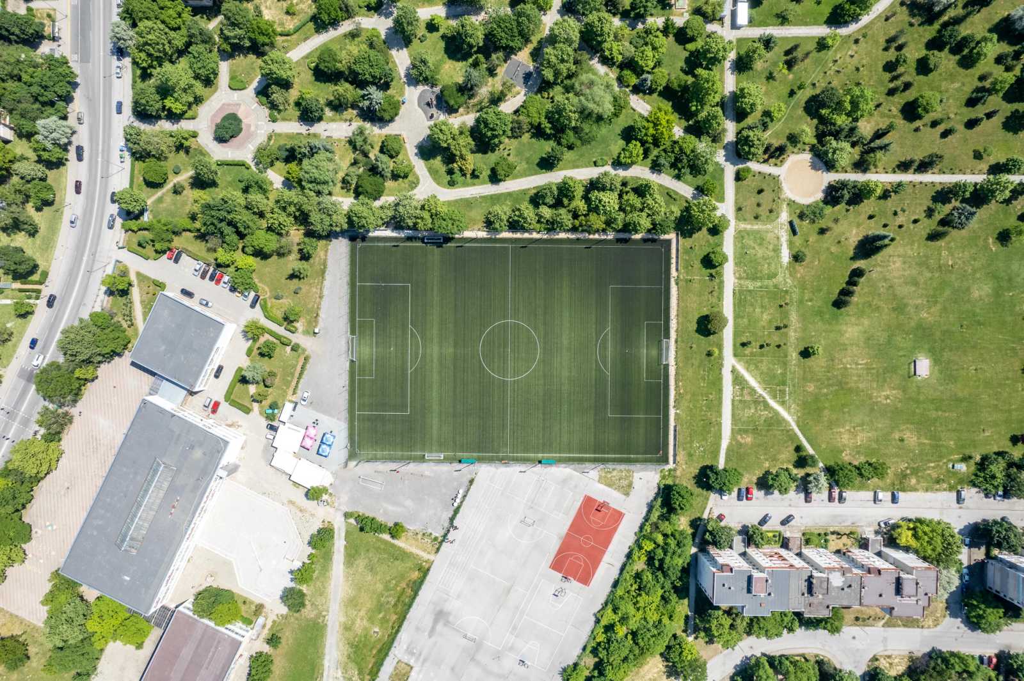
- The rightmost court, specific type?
basketball court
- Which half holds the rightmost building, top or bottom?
bottom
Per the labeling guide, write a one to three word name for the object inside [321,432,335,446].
umbrella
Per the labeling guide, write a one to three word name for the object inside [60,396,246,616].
building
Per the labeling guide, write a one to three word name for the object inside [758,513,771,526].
vehicle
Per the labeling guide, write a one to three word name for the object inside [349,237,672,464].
soccer field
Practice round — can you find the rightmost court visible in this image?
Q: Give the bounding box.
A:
[549,495,625,587]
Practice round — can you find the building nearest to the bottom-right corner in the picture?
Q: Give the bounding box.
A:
[987,556,1024,608]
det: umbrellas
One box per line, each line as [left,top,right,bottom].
[317,443,331,457]
[301,436,315,450]
[305,425,319,439]
[321,432,335,446]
